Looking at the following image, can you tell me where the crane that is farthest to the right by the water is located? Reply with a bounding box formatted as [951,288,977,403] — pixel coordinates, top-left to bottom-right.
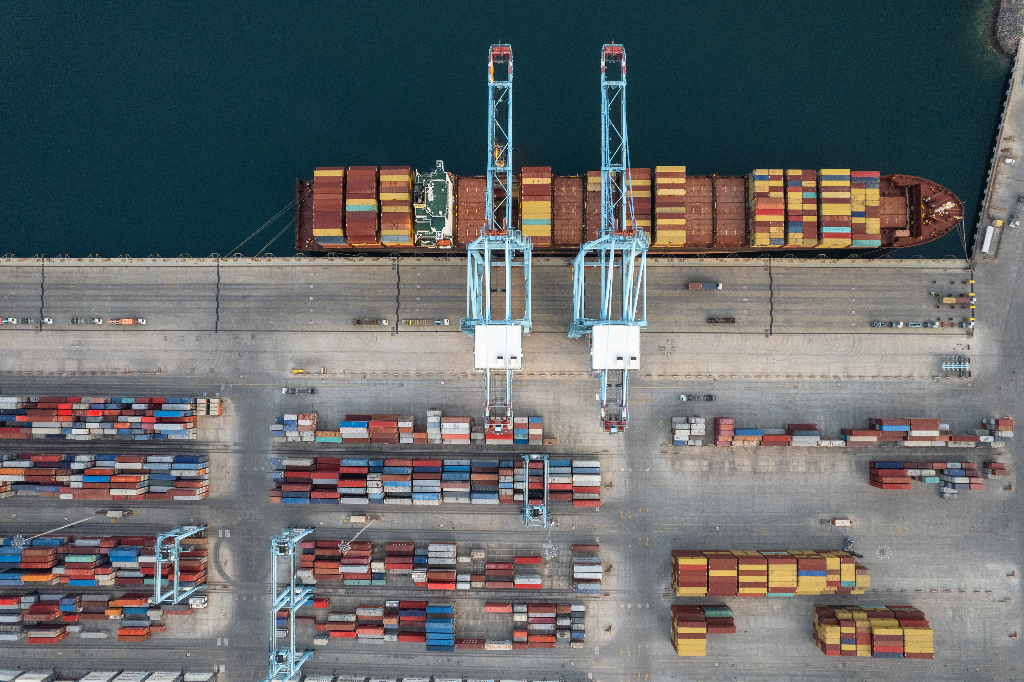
[565,37,649,438]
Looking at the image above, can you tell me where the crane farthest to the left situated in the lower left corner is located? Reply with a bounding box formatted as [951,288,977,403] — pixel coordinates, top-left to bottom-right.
[150,524,208,604]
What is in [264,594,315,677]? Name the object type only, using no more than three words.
crane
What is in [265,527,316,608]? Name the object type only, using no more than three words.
crane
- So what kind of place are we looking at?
port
